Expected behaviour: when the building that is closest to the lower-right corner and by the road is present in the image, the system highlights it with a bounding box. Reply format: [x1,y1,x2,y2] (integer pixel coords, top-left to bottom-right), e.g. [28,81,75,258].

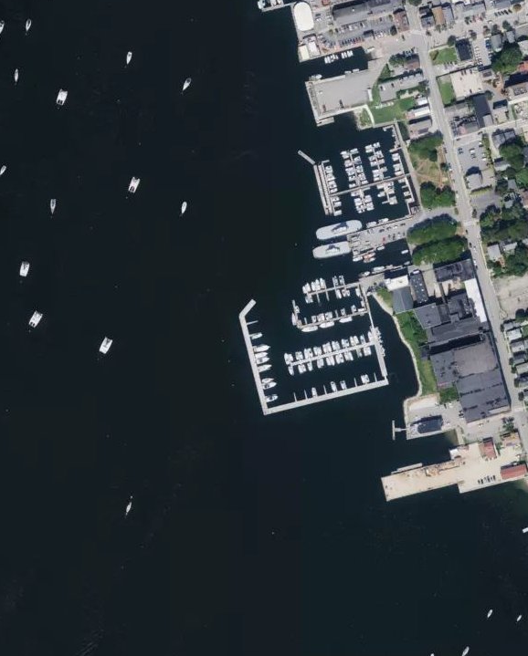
[501,462,528,482]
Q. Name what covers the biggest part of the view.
water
